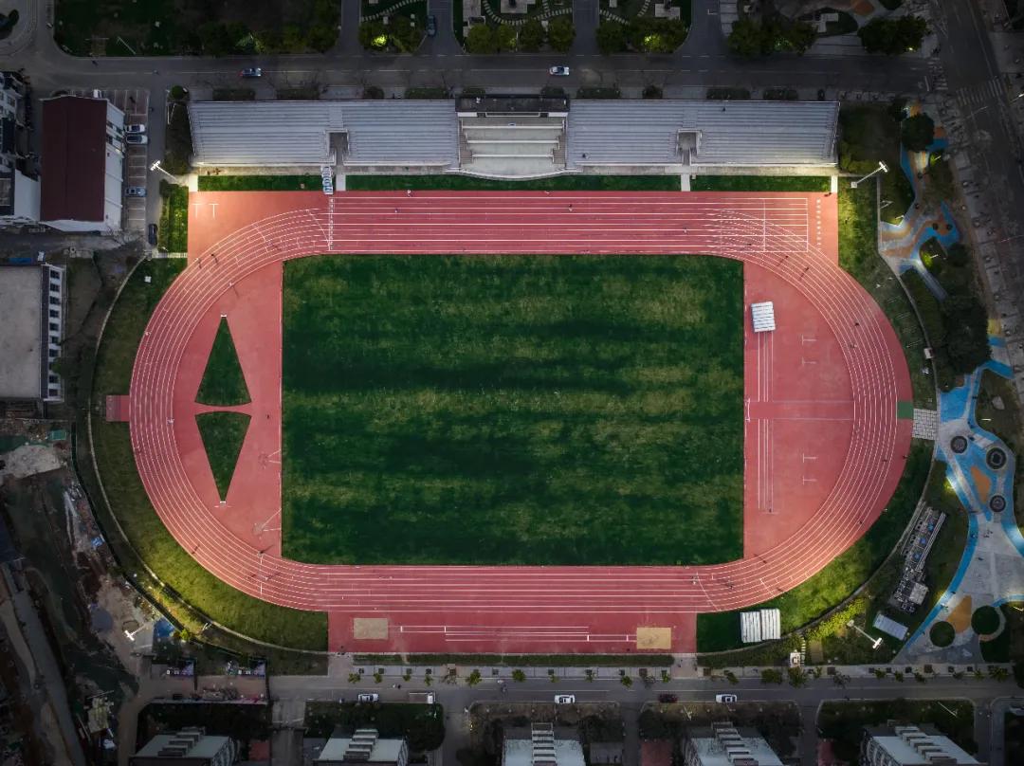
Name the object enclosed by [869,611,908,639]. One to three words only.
shed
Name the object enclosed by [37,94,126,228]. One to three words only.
building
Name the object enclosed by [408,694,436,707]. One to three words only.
vehicle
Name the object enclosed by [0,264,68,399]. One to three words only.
building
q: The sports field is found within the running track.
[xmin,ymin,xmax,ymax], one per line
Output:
[282,253,744,566]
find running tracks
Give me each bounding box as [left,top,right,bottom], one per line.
[106,191,913,653]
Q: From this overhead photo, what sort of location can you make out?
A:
sports ground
